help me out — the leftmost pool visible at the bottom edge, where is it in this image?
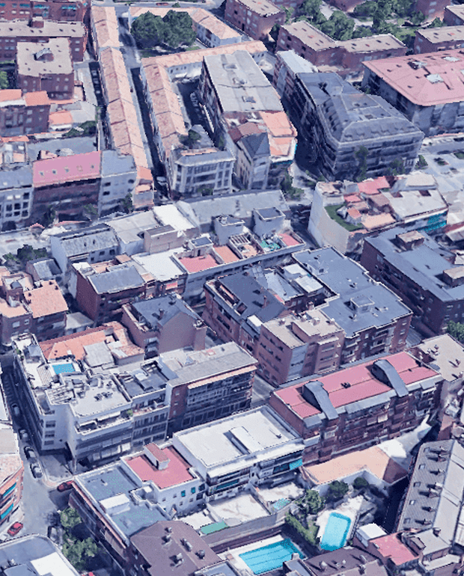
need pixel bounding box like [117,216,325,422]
[236,536,309,576]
